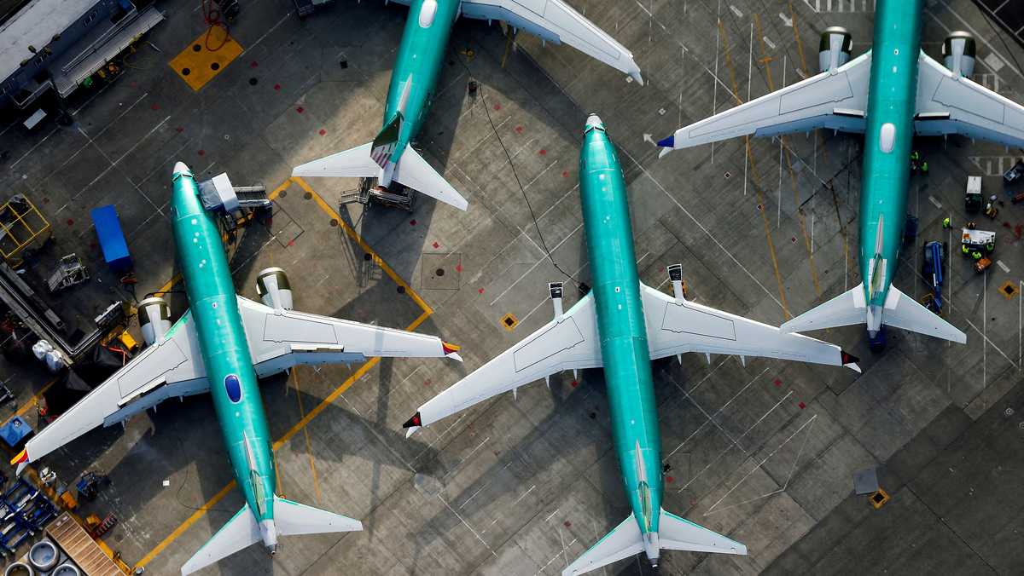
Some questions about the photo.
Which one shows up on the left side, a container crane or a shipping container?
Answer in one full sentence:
The feature located on the left side is a shipping container.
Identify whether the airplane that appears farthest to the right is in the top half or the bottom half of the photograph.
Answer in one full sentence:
Seen from above, the airplane that appears farthest to the right lies in the top half of the view.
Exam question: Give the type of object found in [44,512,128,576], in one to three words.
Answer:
trailer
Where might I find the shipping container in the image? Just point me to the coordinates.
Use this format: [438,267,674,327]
[92,205,132,277]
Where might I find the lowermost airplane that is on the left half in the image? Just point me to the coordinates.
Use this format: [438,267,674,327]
[13,162,463,576]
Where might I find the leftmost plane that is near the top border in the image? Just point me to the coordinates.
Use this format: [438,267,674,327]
[292,0,643,210]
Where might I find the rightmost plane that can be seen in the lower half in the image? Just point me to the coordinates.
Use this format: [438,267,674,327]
[401,116,861,576]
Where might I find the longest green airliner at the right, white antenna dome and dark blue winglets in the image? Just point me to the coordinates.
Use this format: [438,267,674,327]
[657,0,1024,344]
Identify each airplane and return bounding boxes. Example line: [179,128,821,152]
[657,0,1024,344]
[292,0,643,210]
[13,162,463,576]
[401,116,861,576]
